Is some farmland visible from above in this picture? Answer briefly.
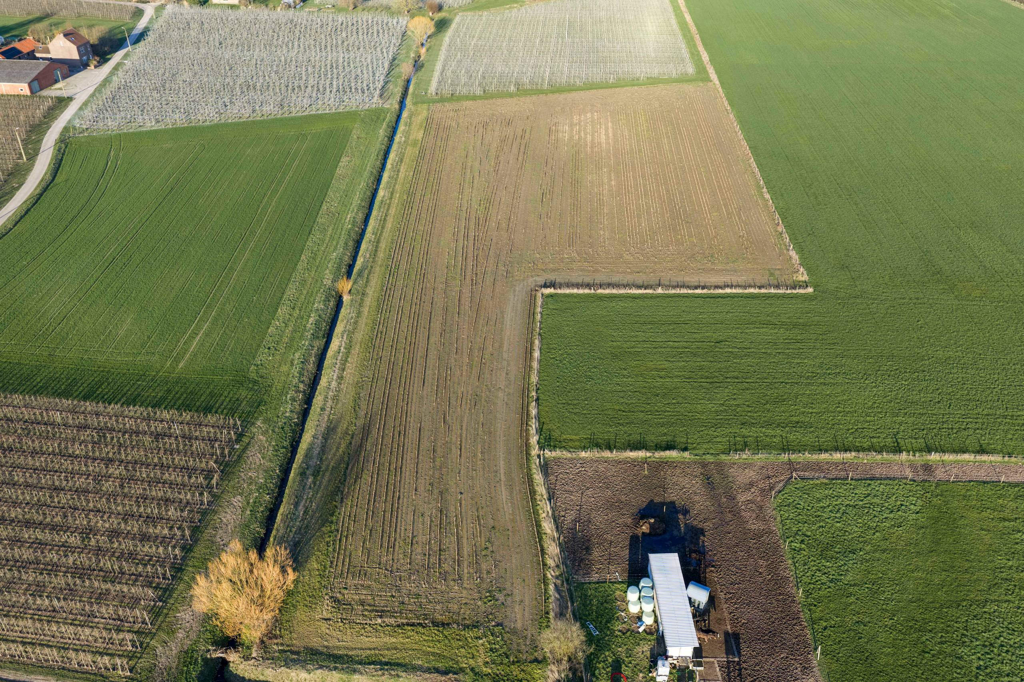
Yes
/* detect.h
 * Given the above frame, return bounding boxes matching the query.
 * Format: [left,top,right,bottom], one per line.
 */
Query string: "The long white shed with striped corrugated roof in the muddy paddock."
[646,552,700,660]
